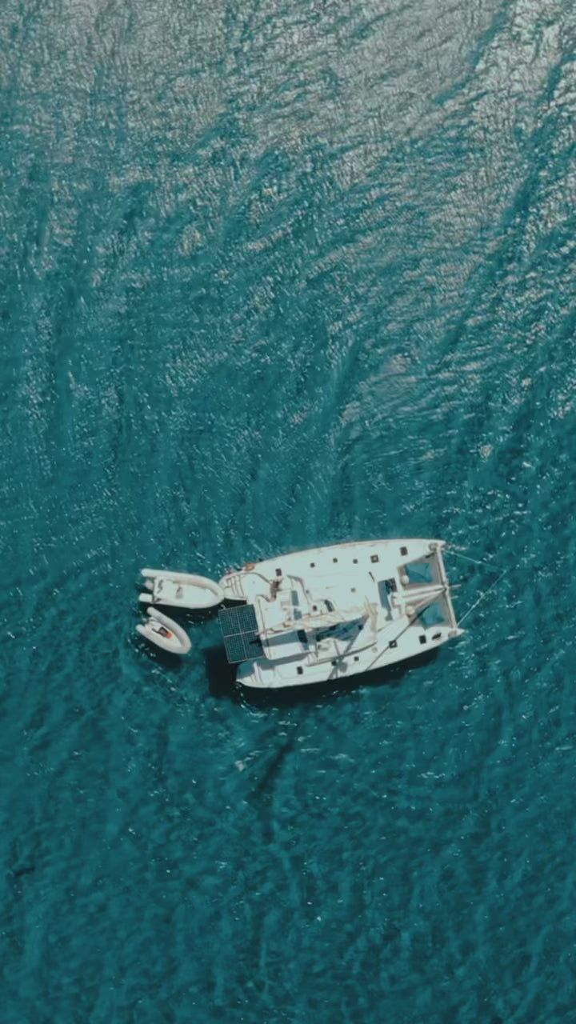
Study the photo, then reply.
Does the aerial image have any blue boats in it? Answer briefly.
No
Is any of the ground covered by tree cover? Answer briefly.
No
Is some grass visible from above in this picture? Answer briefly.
No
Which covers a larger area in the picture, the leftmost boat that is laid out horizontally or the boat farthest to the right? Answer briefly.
the boat farthest to the right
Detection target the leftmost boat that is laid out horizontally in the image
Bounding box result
[142,571,221,609]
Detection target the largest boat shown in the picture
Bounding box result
[218,539,466,689]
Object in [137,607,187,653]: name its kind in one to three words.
boat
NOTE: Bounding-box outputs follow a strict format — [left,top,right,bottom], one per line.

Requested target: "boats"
[137,607,187,653]
[218,539,466,689]
[142,571,221,609]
